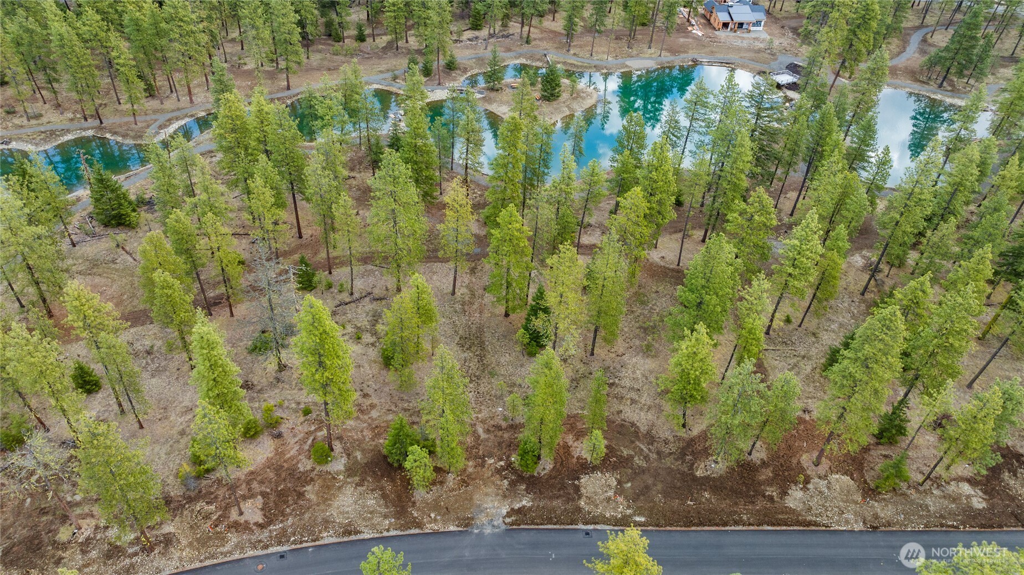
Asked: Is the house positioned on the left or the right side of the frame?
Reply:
right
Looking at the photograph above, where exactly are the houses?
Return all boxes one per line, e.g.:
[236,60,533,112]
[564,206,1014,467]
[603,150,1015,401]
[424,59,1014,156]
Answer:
[701,0,773,33]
